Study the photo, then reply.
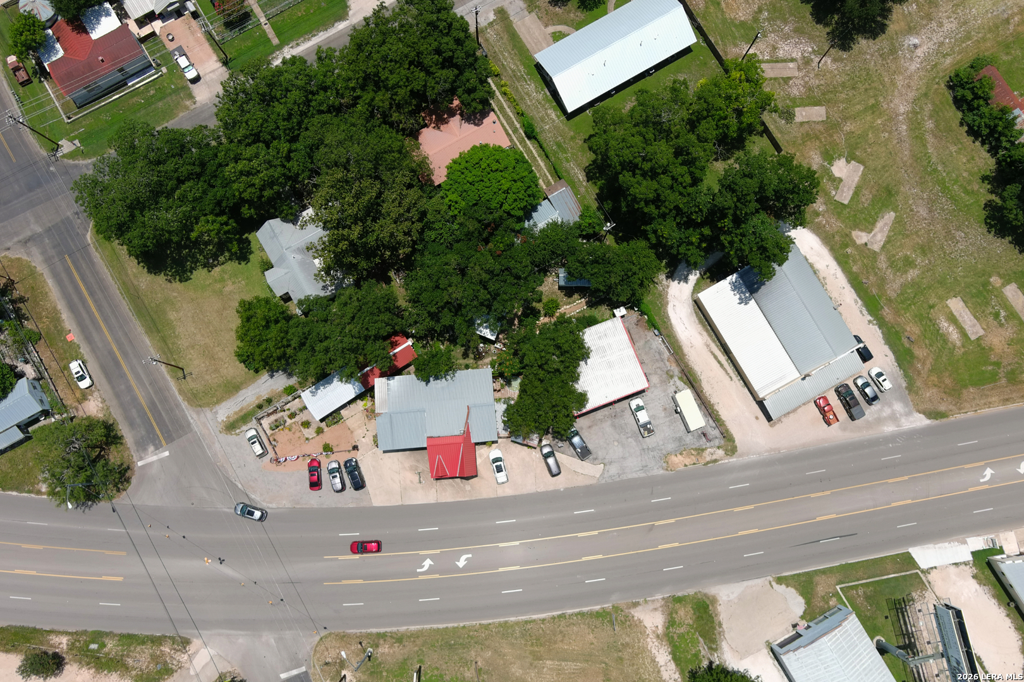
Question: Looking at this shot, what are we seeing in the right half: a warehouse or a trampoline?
warehouse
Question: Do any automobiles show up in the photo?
Yes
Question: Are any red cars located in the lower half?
Yes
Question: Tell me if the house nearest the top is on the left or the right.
left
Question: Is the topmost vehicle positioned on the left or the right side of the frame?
left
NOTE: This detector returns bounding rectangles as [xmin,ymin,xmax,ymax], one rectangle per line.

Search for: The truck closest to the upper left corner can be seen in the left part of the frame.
[6,53,32,87]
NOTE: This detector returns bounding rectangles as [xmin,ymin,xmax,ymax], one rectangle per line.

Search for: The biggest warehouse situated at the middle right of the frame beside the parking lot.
[693,243,871,421]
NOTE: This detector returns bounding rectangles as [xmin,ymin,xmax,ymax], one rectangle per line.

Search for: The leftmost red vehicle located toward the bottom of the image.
[306,458,323,492]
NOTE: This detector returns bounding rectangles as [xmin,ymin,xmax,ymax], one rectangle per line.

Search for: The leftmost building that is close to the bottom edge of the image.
[769,602,897,682]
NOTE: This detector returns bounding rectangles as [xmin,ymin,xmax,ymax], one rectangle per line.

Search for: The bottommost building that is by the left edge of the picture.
[0,377,52,451]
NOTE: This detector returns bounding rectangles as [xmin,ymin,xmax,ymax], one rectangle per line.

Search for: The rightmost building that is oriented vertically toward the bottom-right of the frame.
[992,555,1024,624]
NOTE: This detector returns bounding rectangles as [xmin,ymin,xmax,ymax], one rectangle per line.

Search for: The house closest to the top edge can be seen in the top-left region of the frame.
[121,0,179,32]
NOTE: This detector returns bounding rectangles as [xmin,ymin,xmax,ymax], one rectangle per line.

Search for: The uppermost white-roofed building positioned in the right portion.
[535,0,697,116]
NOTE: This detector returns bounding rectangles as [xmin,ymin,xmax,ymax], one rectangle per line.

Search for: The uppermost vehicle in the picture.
[182,0,204,21]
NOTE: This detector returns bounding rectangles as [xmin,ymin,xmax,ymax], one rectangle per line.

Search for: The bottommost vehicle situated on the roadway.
[350,539,383,556]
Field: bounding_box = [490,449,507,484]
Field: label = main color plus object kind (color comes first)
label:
white car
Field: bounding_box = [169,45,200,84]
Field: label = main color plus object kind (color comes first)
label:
white truck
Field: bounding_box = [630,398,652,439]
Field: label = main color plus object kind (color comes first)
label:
white truck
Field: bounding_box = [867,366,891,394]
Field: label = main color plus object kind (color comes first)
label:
white car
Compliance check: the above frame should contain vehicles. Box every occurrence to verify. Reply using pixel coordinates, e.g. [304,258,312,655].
[813,394,838,426]
[564,426,592,463]
[235,501,269,523]
[70,358,93,389]
[6,53,32,87]
[344,457,365,492]
[541,443,560,477]
[182,0,204,21]
[490,449,507,484]
[630,398,652,439]
[350,539,383,556]
[245,427,268,460]
[853,375,878,406]
[835,384,865,422]
[306,458,323,492]
[853,331,876,366]
[325,459,345,494]
[169,45,200,84]
[867,366,891,394]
